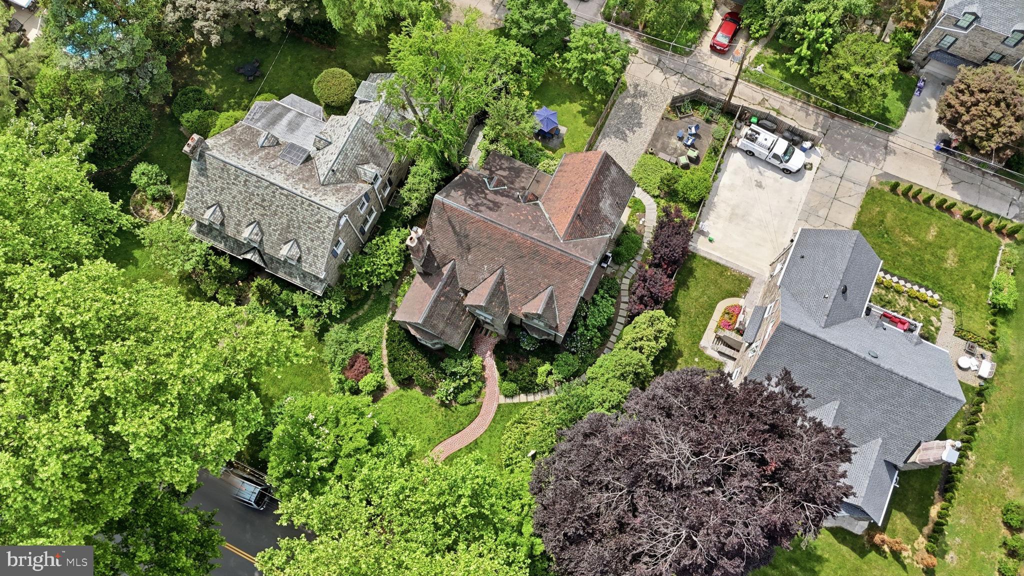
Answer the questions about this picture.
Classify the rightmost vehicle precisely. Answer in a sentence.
In the photo, the rightmost vehicle shows up as a truck.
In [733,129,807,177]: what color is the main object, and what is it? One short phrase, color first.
white truck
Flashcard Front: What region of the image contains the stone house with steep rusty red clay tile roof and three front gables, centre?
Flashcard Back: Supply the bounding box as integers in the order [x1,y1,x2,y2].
[391,150,639,353]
